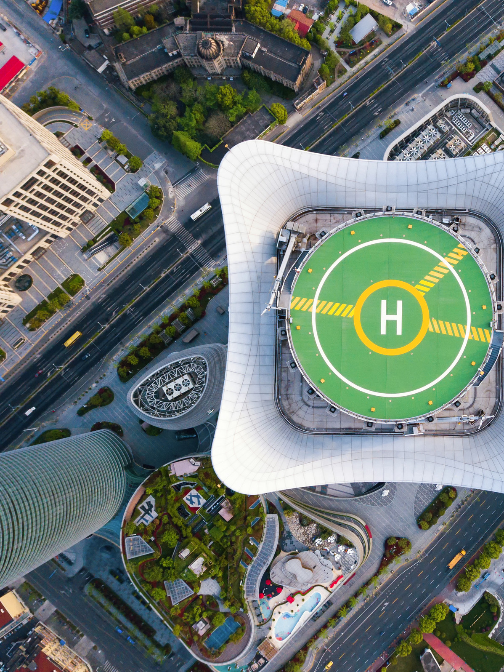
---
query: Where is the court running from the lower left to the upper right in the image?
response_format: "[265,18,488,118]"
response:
[204,615,239,649]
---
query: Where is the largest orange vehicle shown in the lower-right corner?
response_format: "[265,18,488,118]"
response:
[447,549,466,569]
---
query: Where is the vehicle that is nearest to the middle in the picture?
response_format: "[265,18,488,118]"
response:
[190,202,212,220]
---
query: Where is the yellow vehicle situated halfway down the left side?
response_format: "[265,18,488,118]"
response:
[63,331,82,347]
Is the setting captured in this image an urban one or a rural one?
urban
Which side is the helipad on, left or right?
right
